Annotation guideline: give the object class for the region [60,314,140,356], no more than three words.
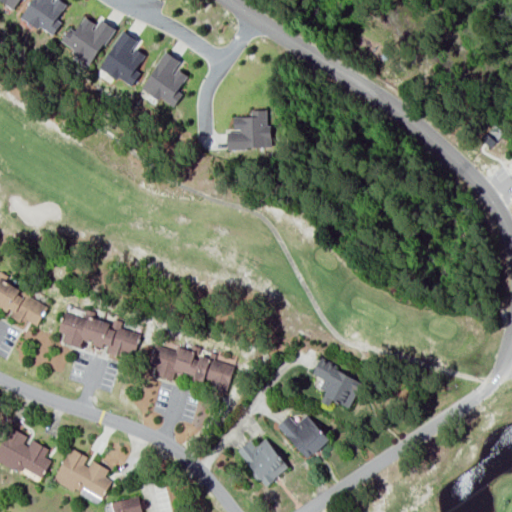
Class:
building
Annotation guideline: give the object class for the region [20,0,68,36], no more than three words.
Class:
house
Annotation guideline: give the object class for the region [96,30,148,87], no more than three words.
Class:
house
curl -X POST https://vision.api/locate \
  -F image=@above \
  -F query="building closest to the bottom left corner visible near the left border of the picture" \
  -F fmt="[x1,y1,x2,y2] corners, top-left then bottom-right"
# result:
[0,431,52,482]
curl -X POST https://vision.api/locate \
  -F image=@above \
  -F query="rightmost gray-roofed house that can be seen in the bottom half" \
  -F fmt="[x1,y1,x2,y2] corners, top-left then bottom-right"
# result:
[312,362,362,410]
